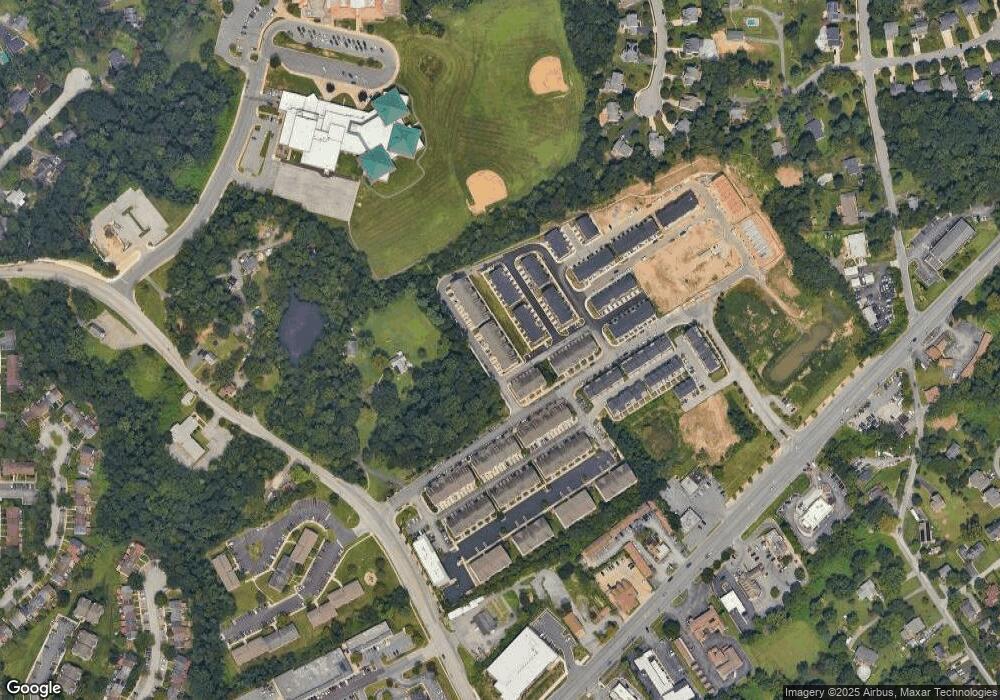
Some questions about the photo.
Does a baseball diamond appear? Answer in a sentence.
Yes, I can see a baseball diamond in this picture.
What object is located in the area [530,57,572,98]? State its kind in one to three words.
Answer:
baseball field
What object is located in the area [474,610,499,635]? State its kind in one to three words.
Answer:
barn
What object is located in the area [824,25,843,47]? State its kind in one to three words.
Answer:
house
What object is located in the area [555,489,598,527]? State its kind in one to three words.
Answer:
building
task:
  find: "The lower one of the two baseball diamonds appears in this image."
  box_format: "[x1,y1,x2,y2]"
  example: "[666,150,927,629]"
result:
[466,170,508,217]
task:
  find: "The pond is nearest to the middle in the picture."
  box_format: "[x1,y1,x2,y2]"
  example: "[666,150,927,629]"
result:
[279,297,326,364]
